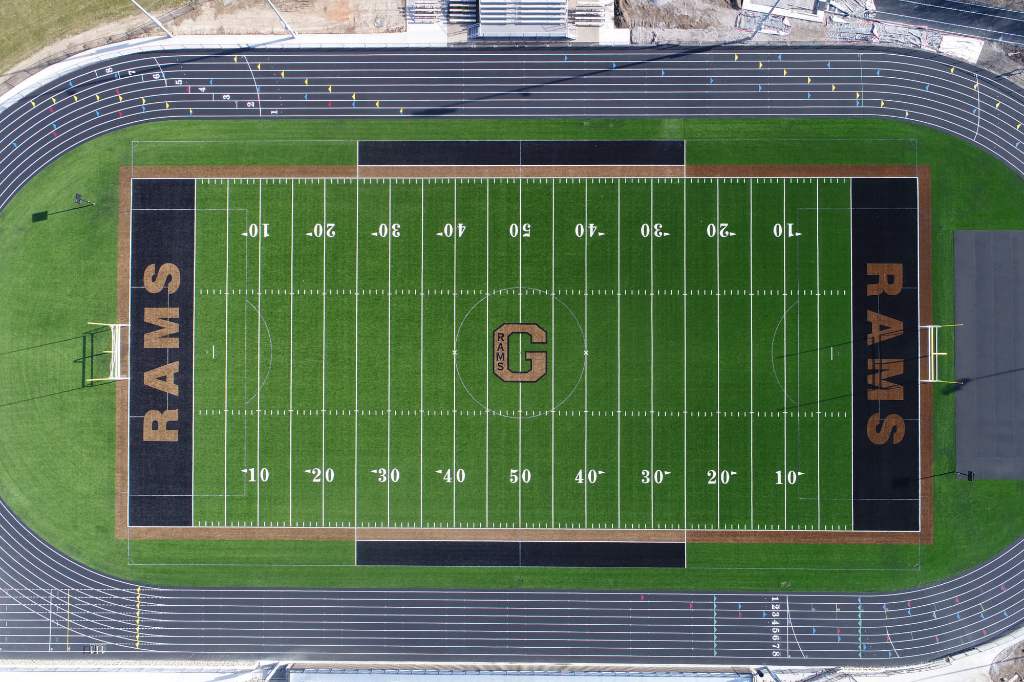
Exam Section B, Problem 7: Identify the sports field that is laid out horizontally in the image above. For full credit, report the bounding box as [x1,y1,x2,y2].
[0,117,1024,592]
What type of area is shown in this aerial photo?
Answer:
sports ground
